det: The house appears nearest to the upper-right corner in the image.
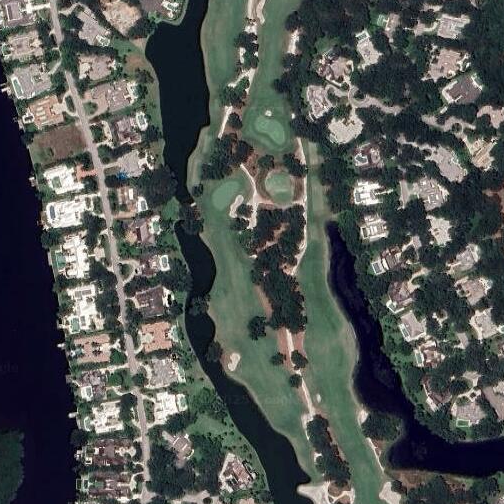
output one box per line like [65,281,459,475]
[437,14,469,38]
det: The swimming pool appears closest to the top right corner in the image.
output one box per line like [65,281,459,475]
[457,50,474,67]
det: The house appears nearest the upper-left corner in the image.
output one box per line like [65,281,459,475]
[0,0,38,24]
